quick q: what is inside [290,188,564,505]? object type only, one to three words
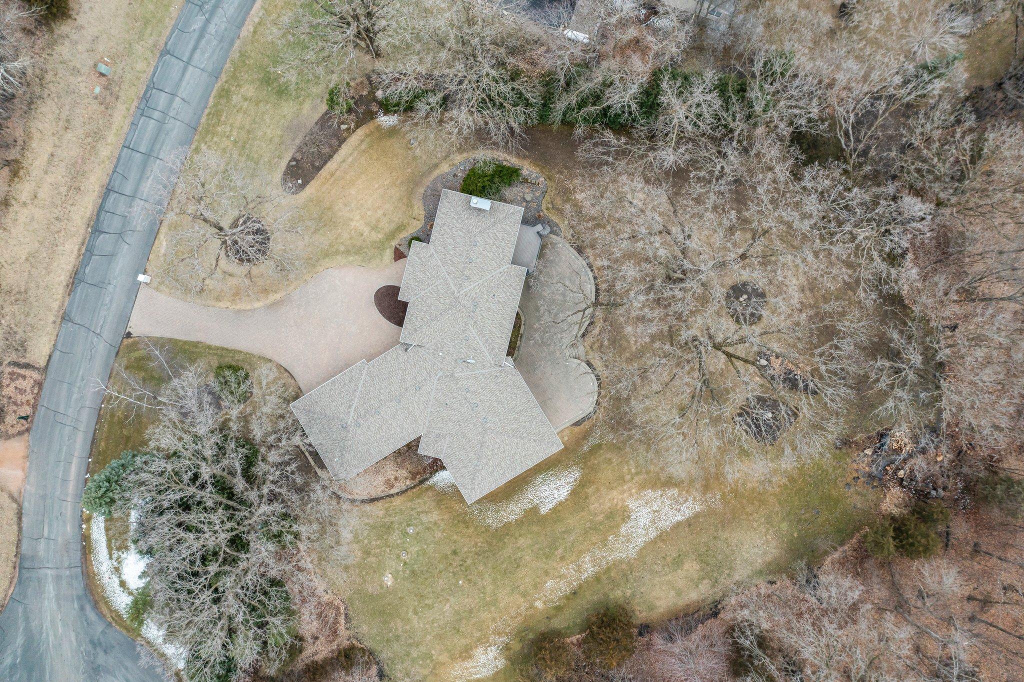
house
